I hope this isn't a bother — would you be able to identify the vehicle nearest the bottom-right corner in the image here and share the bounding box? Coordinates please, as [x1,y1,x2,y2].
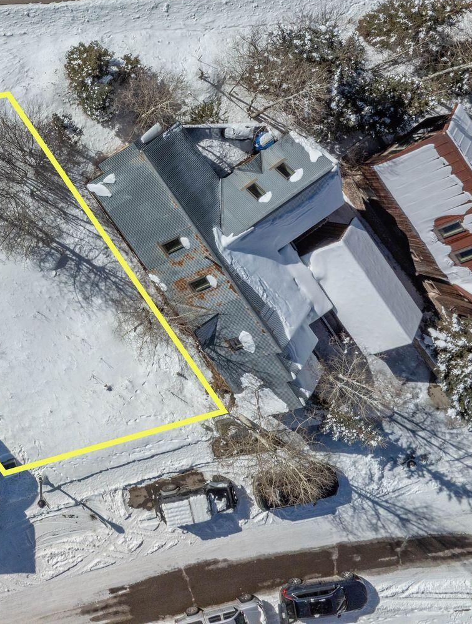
[279,570,373,624]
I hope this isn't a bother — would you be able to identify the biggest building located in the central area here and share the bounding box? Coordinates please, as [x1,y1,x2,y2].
[86,120,345,417]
